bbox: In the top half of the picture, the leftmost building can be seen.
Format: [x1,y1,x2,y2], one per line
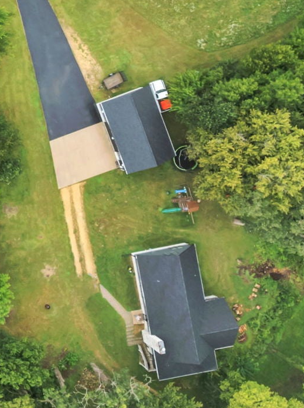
[98,84,177,174]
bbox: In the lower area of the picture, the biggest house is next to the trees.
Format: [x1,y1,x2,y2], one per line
[131,242,239,381]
